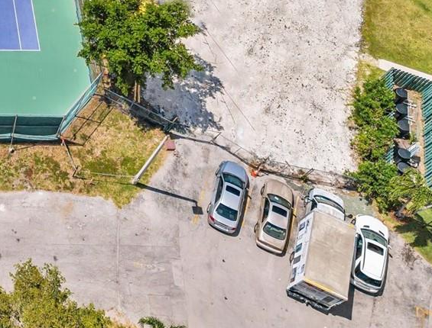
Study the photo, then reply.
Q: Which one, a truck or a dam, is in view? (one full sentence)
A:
There is a truck in the scene.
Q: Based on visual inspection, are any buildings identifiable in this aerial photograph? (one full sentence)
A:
No, there is no building in the image.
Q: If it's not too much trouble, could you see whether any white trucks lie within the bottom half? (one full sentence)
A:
Yes, there is a white truck within the bottom half.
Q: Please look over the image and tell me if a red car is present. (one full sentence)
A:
No, there appears to be no red car in this shot.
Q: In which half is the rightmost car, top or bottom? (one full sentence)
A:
The rightmost car sits in the bottom half of the picture.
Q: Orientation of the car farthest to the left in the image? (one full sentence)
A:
I'd say the car farthest to the left is aligned from top to bottom in the picture.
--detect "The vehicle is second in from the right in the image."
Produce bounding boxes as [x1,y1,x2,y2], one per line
[286,180,356,311]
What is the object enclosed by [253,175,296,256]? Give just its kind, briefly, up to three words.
car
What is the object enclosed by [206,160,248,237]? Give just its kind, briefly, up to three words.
car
